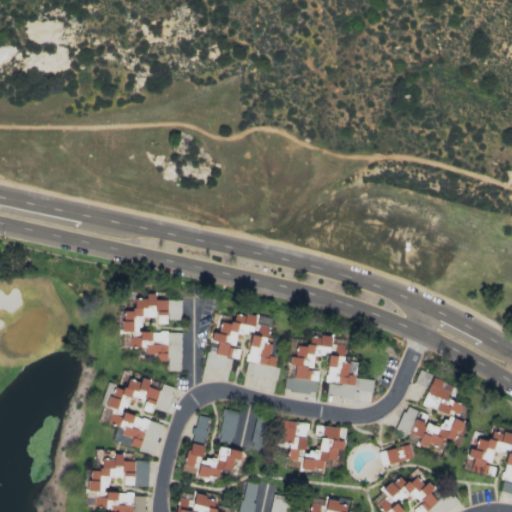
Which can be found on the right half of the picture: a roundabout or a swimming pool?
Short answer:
swimming pool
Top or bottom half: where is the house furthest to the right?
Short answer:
bottom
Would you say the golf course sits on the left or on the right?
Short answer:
left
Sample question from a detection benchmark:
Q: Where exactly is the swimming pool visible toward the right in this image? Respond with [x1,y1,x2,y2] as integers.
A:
[347,443,388,482]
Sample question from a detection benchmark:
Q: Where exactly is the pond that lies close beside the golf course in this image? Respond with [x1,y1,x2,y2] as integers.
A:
[0,352,81,512]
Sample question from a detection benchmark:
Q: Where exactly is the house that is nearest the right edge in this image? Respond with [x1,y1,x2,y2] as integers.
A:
[464,425,512,493]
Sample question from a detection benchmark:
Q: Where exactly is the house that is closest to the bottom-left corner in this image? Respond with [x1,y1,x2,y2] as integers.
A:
[86,451,150,512]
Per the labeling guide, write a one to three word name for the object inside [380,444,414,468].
building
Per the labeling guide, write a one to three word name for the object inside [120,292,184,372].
house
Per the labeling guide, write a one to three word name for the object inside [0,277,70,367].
golf course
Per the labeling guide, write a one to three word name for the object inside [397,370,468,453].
house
